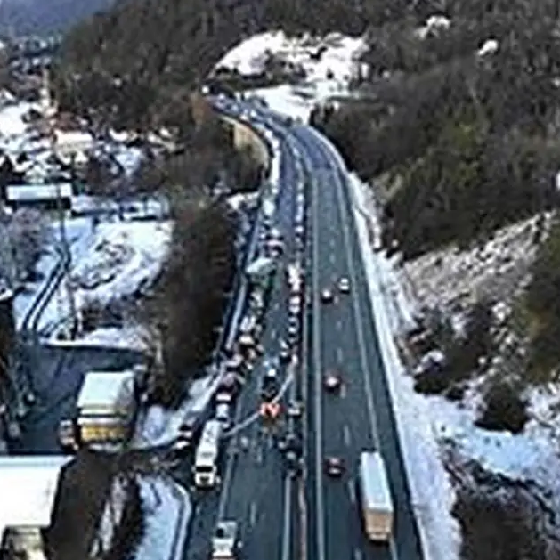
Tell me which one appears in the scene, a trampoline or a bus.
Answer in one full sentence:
The image shows a bus.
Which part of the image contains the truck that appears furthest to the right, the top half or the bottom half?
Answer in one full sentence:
Seen from above, the truck that appears furthest to the right lies in the bottom half of the view.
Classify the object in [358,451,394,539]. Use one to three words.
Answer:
truck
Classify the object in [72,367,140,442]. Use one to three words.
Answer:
building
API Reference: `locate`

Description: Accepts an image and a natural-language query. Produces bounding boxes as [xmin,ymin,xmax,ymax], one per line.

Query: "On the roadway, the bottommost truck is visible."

[210,528,240,560]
